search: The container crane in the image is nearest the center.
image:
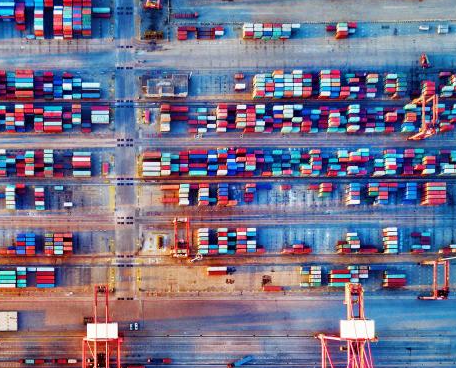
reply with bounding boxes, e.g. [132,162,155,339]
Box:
[169,219,190,262]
